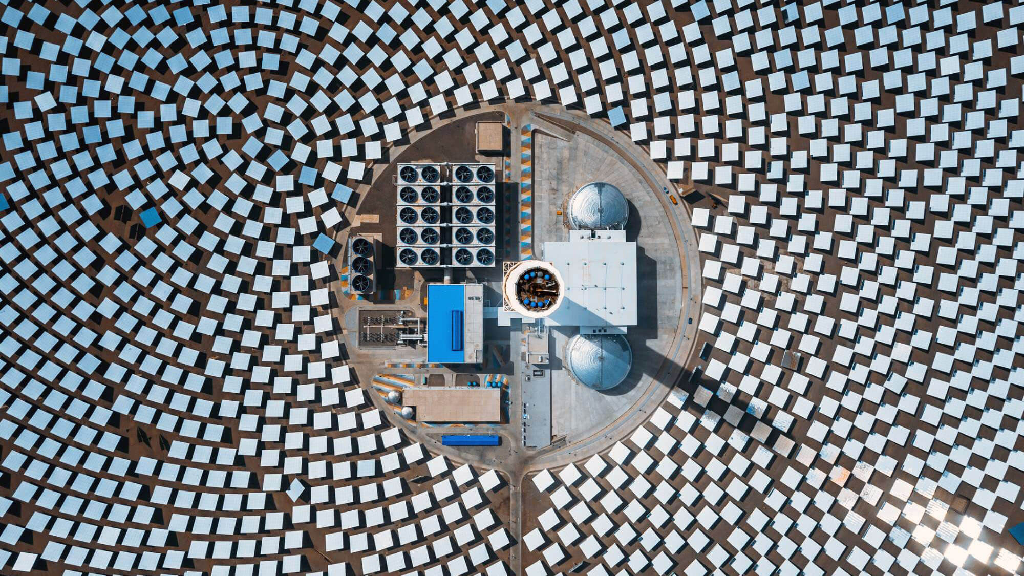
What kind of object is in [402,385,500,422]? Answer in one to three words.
building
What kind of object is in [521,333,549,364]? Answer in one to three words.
house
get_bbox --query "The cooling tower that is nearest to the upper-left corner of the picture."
[348,236,377,294]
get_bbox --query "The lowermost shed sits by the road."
[442,434,500,446]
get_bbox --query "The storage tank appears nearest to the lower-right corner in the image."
[563,328,632,390]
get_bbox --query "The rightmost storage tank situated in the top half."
[565,181,628,230]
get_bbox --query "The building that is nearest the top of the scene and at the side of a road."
[475,122,504,153]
